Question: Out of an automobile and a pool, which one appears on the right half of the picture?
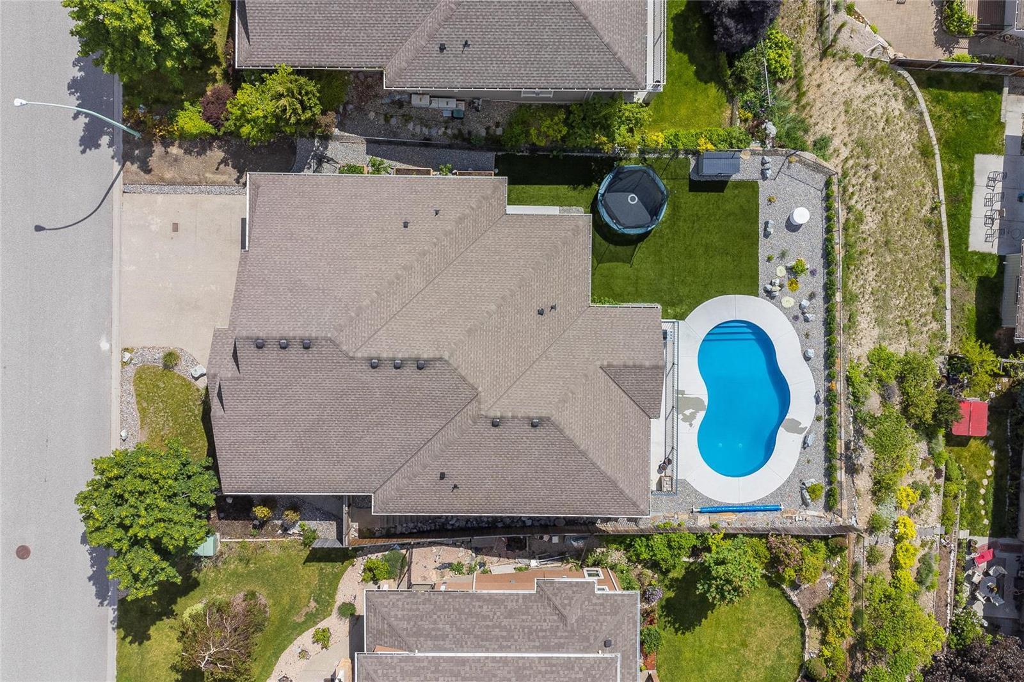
pool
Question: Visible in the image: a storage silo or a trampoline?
trampoline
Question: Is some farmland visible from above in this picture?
No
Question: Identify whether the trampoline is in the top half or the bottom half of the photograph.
top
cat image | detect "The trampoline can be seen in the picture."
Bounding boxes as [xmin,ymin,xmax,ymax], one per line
[595,163,672,234]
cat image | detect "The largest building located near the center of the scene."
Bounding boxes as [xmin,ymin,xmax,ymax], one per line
[207,172,665,519]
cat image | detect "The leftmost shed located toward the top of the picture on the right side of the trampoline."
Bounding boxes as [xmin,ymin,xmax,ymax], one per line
[701,149,744,174]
